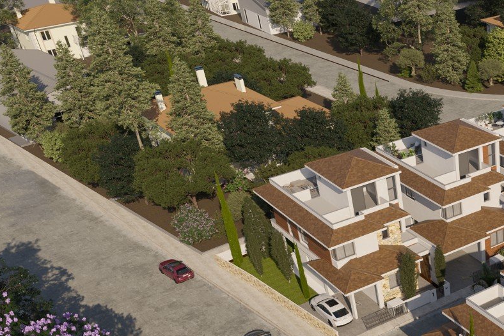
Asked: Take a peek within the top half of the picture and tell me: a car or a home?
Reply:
home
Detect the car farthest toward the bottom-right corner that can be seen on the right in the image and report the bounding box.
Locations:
[312,295,354,325]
